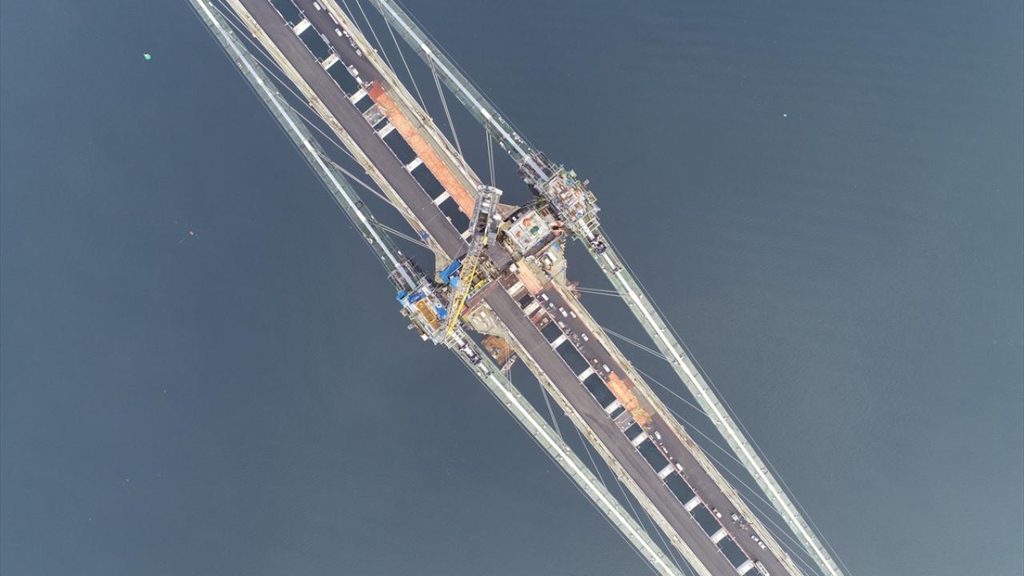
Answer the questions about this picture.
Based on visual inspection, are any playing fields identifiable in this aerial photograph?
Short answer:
No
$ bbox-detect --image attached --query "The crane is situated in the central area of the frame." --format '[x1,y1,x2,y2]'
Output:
[447,187,504,336]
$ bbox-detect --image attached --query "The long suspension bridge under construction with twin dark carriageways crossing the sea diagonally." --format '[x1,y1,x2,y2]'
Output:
[199,0,840,576]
